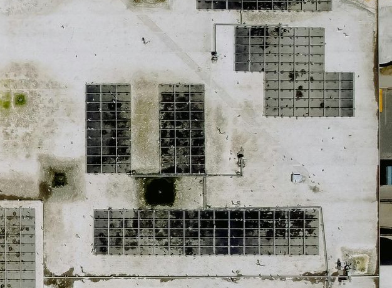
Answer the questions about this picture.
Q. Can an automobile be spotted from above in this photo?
No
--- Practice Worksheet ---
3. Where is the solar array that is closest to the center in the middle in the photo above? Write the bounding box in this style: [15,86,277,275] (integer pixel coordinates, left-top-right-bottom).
[158,82,205,173]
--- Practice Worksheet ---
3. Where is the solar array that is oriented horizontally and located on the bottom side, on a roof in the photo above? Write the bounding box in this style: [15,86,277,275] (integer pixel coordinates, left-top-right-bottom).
[93,207,322,255]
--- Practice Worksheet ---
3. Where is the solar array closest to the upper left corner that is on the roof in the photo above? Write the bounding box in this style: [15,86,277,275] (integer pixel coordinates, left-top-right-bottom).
[86,82,133,173]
